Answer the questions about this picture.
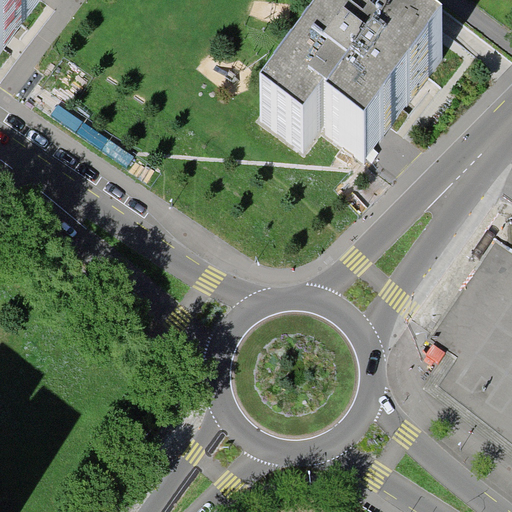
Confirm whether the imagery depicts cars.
Yes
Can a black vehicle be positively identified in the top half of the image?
Yes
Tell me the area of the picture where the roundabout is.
bottom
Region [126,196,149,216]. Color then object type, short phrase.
gray car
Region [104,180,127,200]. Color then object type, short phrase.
gray car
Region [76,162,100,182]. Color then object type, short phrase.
black car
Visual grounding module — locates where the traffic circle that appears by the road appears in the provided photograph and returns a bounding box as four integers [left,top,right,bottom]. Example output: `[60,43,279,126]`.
[204,282,388,466]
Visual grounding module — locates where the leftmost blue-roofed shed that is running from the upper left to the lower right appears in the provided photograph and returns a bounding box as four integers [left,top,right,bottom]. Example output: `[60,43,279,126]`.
[52,106,84,134]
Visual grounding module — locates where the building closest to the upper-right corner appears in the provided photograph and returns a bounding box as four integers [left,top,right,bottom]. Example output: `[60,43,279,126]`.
[260,0,442,166]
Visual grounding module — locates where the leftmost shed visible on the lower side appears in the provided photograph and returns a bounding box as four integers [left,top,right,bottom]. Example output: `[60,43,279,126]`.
[418,345,444,368]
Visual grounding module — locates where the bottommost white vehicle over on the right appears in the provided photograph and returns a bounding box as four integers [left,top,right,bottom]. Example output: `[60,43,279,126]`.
[378,394,396,416]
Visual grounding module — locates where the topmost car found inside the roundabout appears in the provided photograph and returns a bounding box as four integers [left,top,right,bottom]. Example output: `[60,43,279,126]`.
[366,350,380,375]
